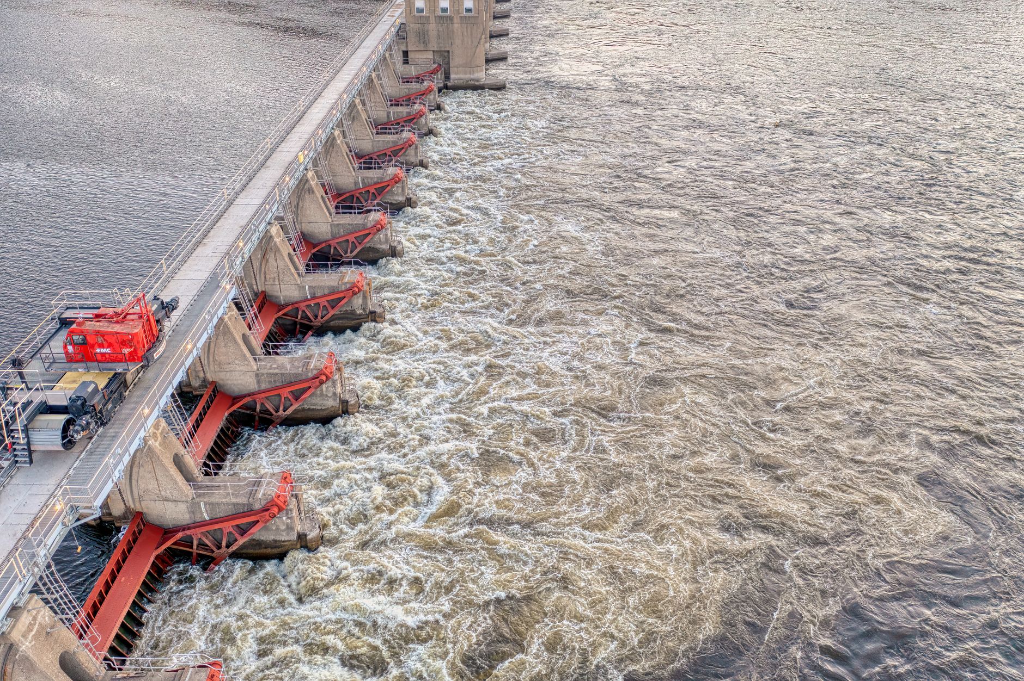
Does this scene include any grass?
No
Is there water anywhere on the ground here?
Yes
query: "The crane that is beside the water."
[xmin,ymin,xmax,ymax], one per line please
[38,289,169,375]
